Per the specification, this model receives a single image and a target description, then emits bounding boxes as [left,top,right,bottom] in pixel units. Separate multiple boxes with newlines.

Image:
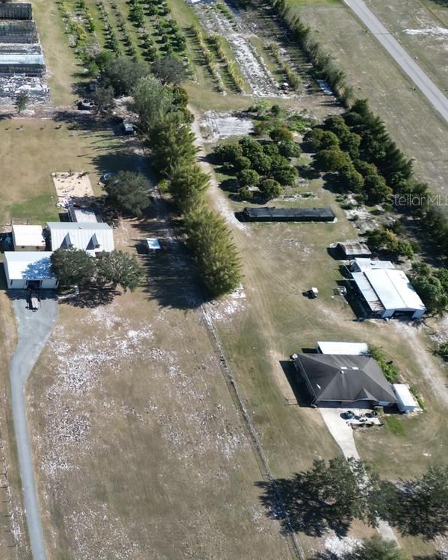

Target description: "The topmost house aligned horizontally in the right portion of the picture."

[244,206,337,223]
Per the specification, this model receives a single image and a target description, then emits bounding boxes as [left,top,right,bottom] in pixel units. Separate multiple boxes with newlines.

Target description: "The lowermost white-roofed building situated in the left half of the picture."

[4,251,60,289]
